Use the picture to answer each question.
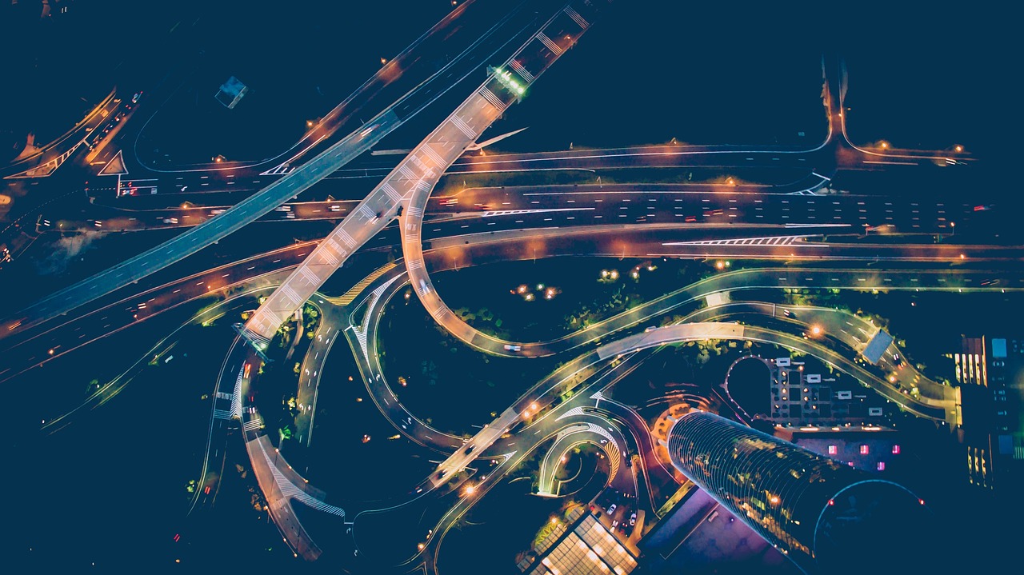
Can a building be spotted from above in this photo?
Yes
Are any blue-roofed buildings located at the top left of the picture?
Yes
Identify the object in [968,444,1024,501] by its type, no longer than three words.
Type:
building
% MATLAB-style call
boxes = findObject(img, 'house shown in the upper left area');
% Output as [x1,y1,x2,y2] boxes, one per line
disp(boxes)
[215,75,252,112]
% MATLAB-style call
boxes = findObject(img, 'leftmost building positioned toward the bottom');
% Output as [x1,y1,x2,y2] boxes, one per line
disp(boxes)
[522,510,641,575]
